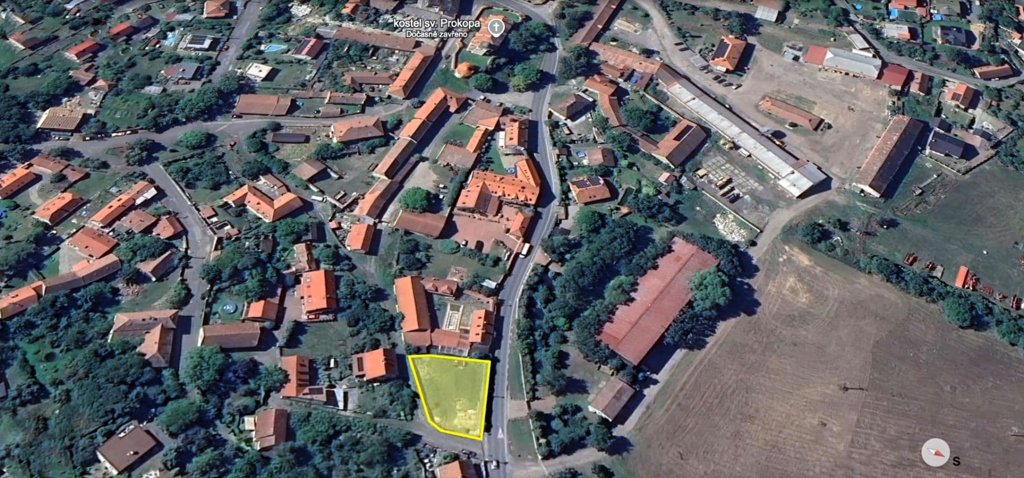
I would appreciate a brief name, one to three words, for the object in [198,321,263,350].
barn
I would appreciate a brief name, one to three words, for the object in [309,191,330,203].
vehicle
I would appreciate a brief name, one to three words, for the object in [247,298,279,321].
building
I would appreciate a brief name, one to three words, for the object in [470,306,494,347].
house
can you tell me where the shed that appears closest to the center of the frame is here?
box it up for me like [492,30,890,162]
[509,213,532,240]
